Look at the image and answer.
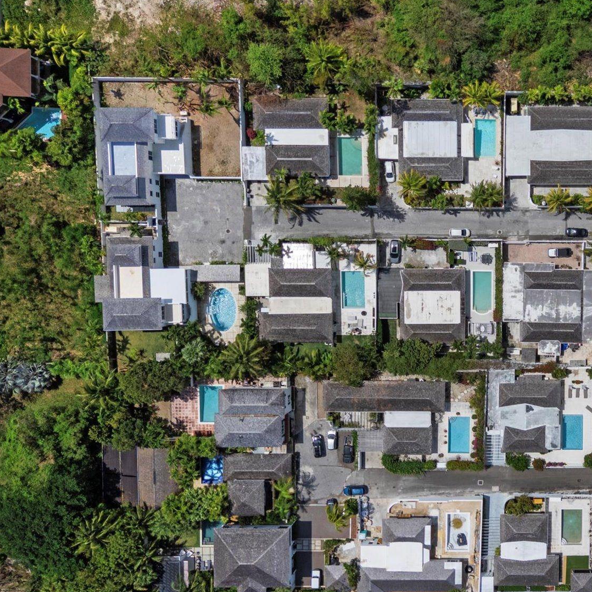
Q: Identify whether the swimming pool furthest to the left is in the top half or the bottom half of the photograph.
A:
top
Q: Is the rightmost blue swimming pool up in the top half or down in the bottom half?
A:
bottom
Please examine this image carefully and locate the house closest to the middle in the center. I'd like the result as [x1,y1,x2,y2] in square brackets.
[245,258,337,342]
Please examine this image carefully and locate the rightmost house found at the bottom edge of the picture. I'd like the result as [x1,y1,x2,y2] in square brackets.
[571,569,592,592]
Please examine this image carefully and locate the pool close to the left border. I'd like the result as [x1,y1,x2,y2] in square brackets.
[20,106,61,137]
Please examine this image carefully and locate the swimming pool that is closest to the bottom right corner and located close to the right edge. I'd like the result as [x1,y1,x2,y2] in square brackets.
[561,509,584,545]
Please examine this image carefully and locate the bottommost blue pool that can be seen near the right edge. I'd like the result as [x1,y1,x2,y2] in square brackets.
[561,414,584,451]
